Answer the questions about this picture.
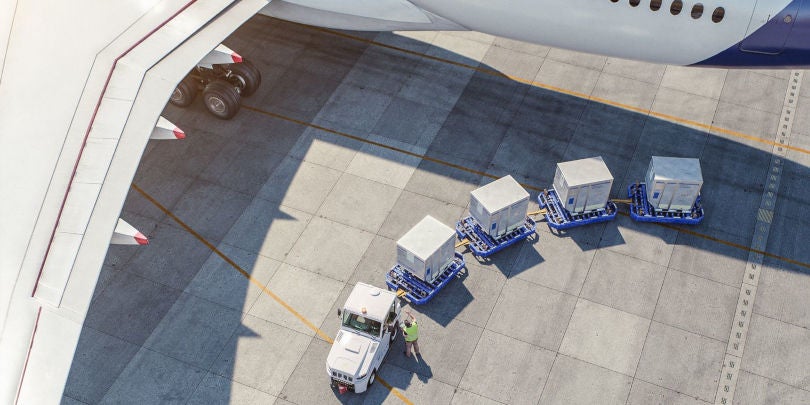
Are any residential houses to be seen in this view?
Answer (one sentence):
No, I find no residential house anywhere in the image.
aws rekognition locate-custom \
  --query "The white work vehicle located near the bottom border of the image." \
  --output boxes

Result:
[324,282,400,396]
